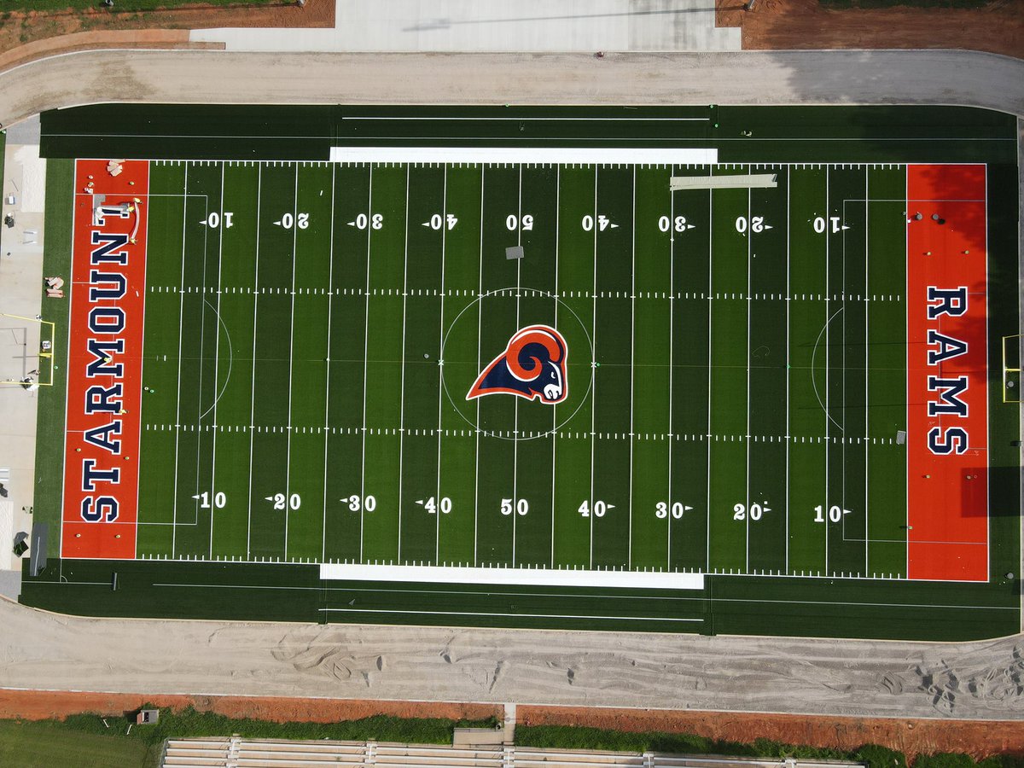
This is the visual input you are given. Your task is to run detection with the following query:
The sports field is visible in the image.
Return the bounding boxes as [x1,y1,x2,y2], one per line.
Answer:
[20,104,1020,641]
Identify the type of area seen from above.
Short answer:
sports ground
